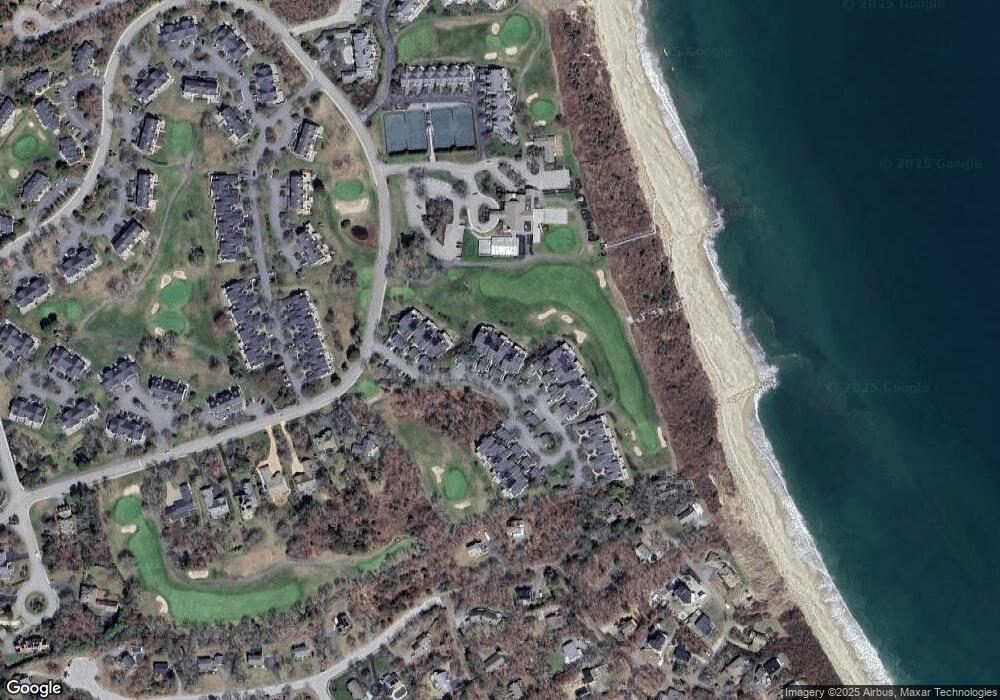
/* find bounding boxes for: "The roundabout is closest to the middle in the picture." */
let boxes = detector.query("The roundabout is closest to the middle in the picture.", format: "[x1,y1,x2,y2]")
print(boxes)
[468,196,500,233]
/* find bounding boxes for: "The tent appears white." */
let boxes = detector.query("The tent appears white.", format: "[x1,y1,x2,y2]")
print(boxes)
[492,237,519,256]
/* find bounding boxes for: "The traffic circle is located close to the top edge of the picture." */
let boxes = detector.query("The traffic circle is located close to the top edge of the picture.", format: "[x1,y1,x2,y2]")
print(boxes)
[12,8,46,42]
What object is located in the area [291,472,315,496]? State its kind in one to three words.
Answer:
house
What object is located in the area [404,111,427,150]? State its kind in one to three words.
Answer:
tennis court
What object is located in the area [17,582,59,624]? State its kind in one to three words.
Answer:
roundabout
